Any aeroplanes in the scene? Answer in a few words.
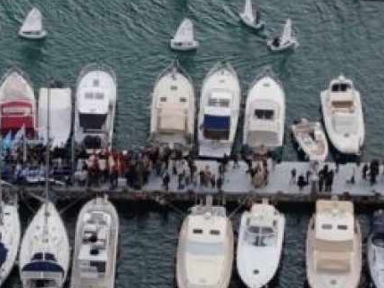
No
